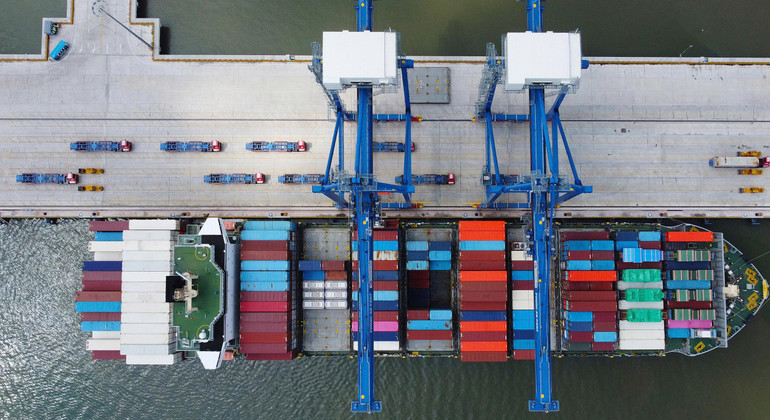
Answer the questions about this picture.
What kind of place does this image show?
port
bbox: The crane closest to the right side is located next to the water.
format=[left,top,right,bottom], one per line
[474,0,593,414]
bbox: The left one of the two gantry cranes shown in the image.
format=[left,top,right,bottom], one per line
[303,0,420,415]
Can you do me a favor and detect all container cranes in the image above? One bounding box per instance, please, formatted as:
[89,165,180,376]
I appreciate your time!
[474,0,593,414]
[303,0,420,415]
